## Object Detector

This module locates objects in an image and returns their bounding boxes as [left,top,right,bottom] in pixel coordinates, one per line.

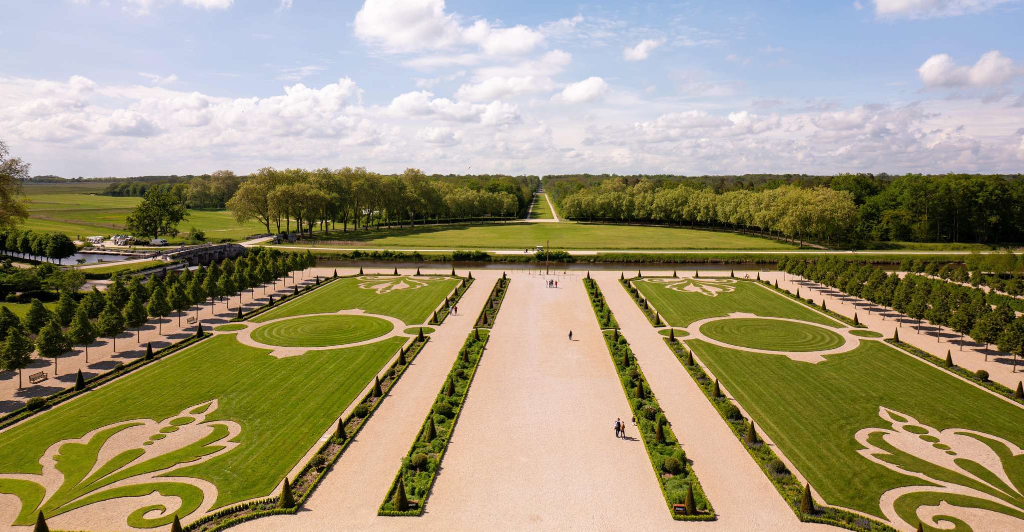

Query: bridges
[154,242,253,262]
